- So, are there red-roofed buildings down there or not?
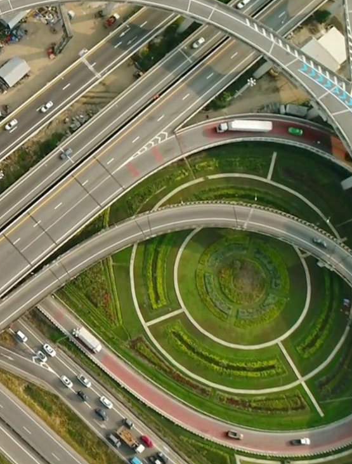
No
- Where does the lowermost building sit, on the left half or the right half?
left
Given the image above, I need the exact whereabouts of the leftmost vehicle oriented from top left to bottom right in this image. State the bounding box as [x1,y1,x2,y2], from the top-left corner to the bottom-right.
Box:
[13,328,29,344]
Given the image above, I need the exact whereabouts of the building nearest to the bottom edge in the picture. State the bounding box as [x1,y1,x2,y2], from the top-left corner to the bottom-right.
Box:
[0,57,30,90]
